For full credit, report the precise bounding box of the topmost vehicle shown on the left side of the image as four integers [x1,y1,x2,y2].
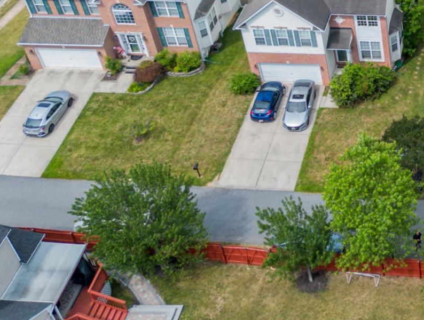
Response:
[21,90,72,133]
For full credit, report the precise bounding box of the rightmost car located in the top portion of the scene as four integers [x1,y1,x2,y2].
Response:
[283,80,315,128]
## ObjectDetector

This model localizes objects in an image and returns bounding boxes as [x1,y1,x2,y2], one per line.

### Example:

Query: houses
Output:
[12,0,233,75]
[234,0,414,87]
[0,224,130,320]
